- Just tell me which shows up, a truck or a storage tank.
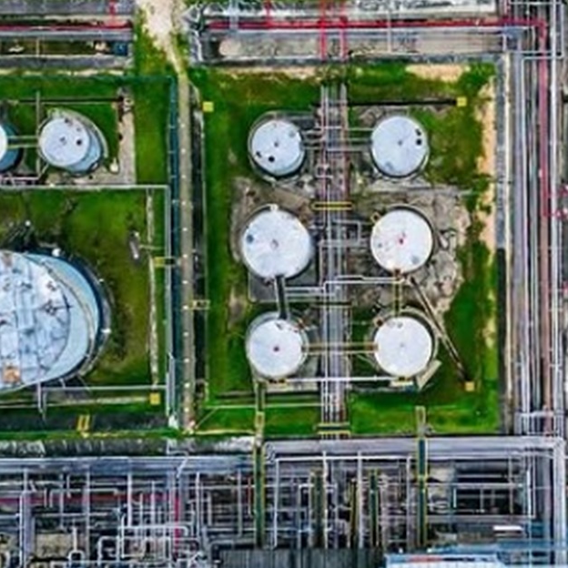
storage tank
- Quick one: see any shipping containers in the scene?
No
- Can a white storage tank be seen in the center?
Yes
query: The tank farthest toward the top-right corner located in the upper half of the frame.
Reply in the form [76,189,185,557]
[362,115,429,186]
